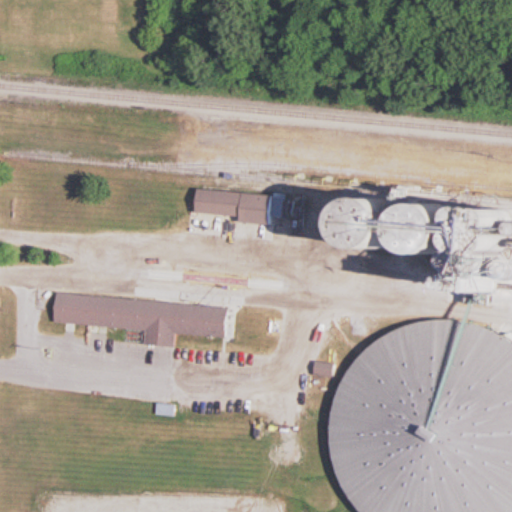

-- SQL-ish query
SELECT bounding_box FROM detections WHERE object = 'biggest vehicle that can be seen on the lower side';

[310,324,325,344]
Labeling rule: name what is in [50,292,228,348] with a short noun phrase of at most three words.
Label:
building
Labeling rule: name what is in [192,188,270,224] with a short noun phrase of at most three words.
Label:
building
